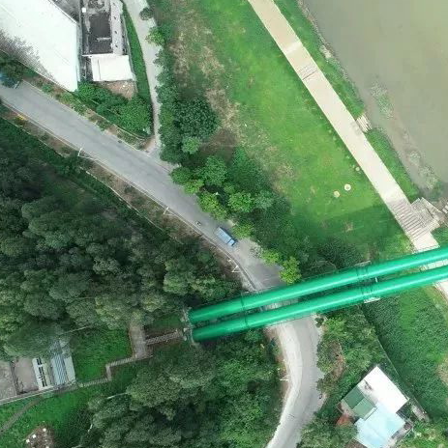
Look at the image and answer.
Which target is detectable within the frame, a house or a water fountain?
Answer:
house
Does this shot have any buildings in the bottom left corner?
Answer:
Yes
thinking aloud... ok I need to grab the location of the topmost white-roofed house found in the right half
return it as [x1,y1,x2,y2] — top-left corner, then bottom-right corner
[359,364,408,412]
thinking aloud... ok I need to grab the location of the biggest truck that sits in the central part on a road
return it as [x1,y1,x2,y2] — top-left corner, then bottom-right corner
[209,226,235,247]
